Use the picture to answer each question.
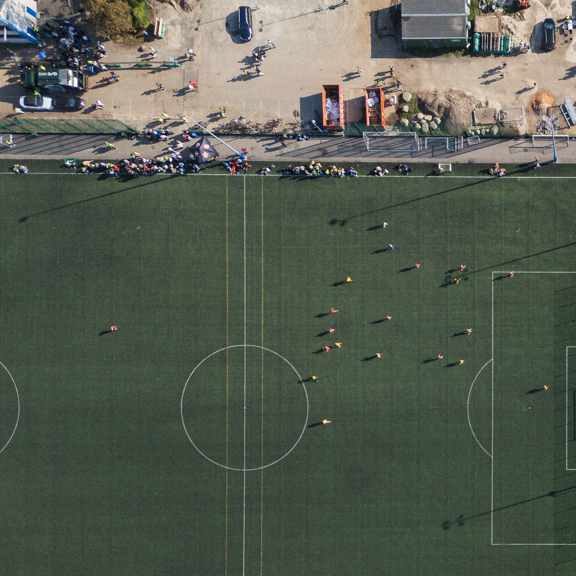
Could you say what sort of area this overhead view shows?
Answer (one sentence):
The area seen from above is a sports ground.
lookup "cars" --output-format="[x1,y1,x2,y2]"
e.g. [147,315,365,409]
[238,7,255,43]
[542,18,558,51]
[50,96,83,112]
[17,95,50,112]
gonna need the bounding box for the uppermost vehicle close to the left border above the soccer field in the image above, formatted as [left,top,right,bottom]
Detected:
[20,66,88,93]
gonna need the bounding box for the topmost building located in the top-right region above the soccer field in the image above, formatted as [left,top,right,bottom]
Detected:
[400,0,469,49]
